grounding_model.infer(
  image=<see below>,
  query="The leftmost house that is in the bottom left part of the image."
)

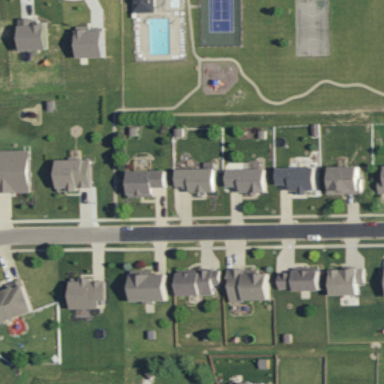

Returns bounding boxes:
[0,274,32,322]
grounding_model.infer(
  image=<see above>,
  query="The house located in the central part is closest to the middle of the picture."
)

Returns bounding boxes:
[171,169,216,196]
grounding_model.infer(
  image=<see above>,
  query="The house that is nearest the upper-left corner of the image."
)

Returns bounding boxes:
[14,18,48,50]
